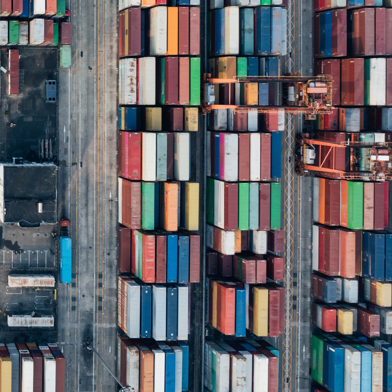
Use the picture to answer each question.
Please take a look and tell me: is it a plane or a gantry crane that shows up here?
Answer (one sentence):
The one in the frame is a gantry crane.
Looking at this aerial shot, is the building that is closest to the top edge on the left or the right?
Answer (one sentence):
You can find the building that is closest to the top edge on the left side of the picture.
